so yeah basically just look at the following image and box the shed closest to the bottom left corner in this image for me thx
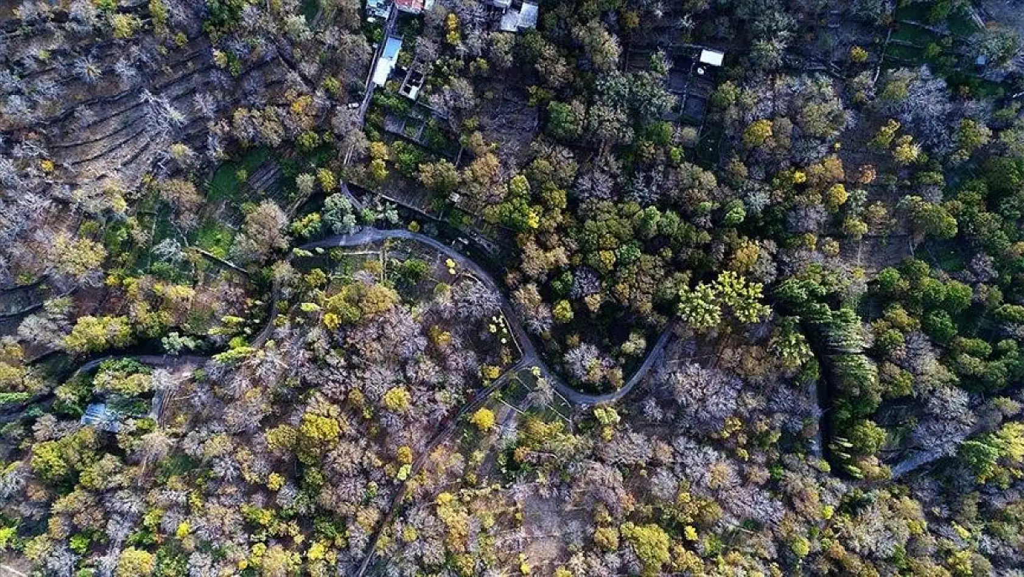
[81,402,122,432]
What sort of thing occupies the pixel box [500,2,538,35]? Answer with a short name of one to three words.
house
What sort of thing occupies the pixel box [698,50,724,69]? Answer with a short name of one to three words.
house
